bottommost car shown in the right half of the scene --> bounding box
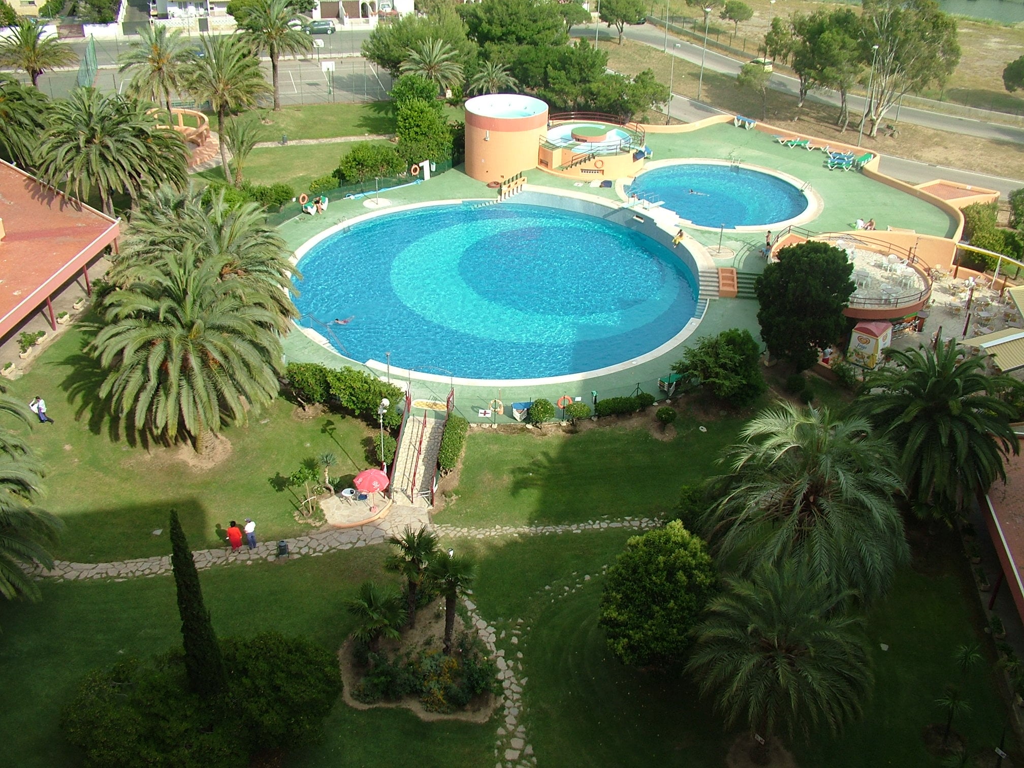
[744,56,781,74]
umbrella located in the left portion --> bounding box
[349,464,394,512]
